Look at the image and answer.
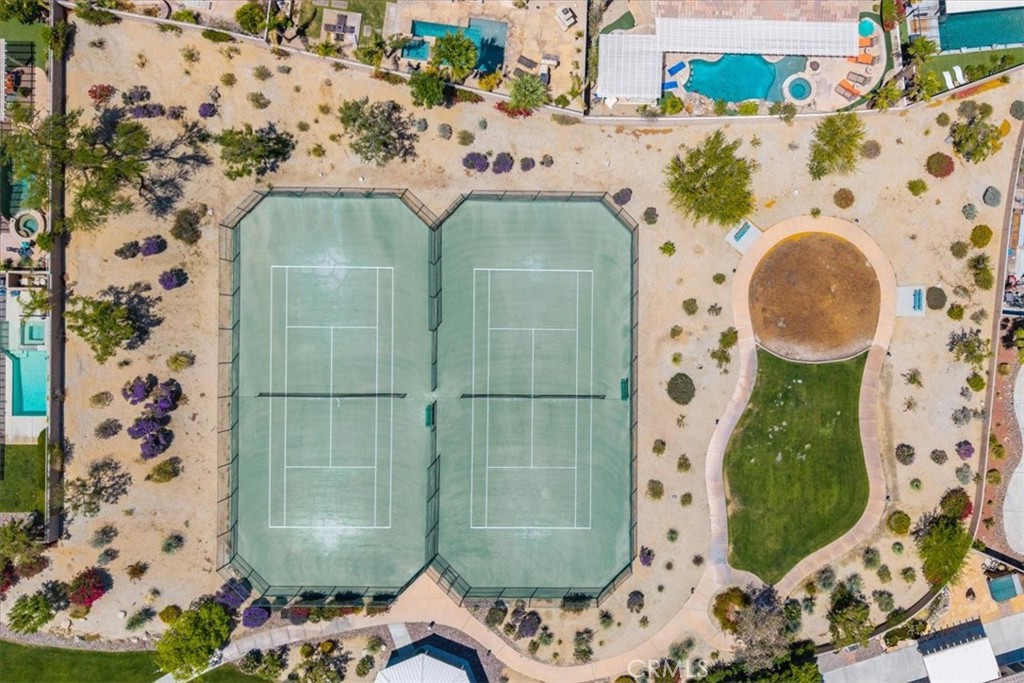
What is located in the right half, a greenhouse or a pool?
pool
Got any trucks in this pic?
No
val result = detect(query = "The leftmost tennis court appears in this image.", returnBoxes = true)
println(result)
[230,191,434,595]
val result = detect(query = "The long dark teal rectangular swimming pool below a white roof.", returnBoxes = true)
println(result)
[937,7,1024,53]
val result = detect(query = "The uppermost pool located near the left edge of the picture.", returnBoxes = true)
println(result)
[0,147,32,224]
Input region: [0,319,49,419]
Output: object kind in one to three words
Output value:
swimming pool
